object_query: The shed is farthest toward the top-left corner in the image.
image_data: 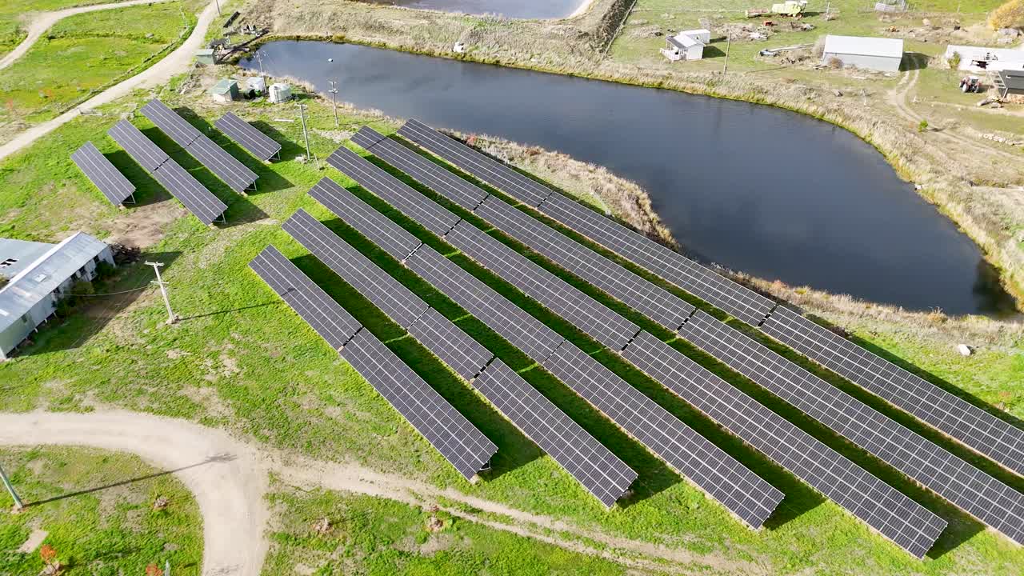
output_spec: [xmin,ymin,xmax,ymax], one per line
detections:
[194,49,220,64]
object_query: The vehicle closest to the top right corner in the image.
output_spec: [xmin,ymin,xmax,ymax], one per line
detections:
[963,76,982,91]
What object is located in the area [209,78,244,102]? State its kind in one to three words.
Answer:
shed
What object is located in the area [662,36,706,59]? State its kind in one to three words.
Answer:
building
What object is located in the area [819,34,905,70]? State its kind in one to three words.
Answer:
shed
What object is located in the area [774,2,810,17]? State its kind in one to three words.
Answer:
work vehicle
